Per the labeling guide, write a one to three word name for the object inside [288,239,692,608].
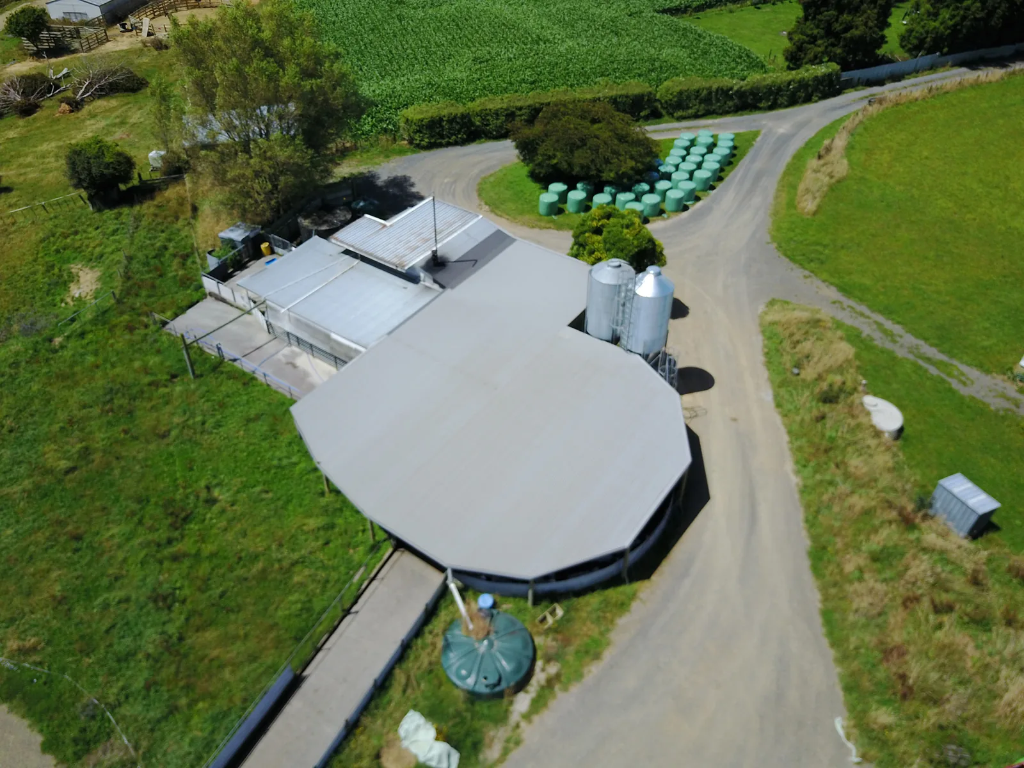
shed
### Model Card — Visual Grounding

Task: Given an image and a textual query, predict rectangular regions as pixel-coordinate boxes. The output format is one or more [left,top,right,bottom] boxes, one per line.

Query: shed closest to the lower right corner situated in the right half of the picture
[931,473,1001,535]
